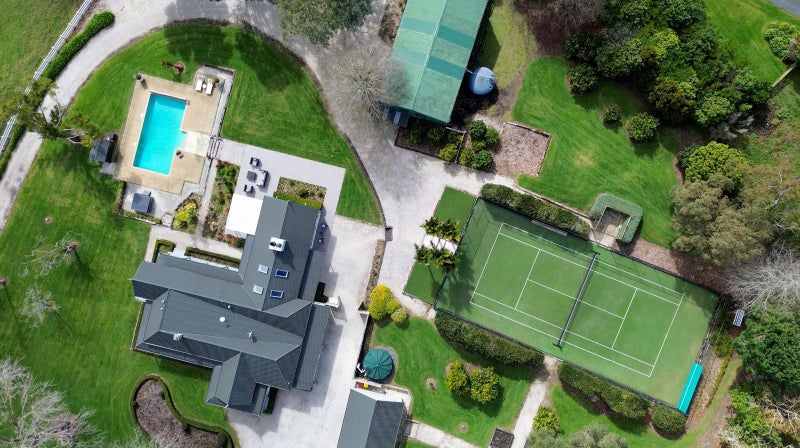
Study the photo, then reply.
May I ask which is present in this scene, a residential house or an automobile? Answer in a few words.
residential house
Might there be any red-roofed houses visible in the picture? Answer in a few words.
No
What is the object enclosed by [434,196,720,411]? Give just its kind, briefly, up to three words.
tennis court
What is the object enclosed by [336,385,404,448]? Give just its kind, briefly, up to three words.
building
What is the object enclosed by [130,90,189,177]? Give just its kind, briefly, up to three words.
swimming pool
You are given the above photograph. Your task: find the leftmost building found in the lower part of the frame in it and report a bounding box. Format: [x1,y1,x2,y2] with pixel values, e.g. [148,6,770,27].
[132,195,332,414]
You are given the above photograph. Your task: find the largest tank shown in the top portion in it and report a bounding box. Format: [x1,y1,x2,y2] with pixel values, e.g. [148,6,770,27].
[467,69,495,99]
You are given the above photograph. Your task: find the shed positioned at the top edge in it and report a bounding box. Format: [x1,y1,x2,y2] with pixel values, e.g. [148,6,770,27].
[382,0,491,125]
